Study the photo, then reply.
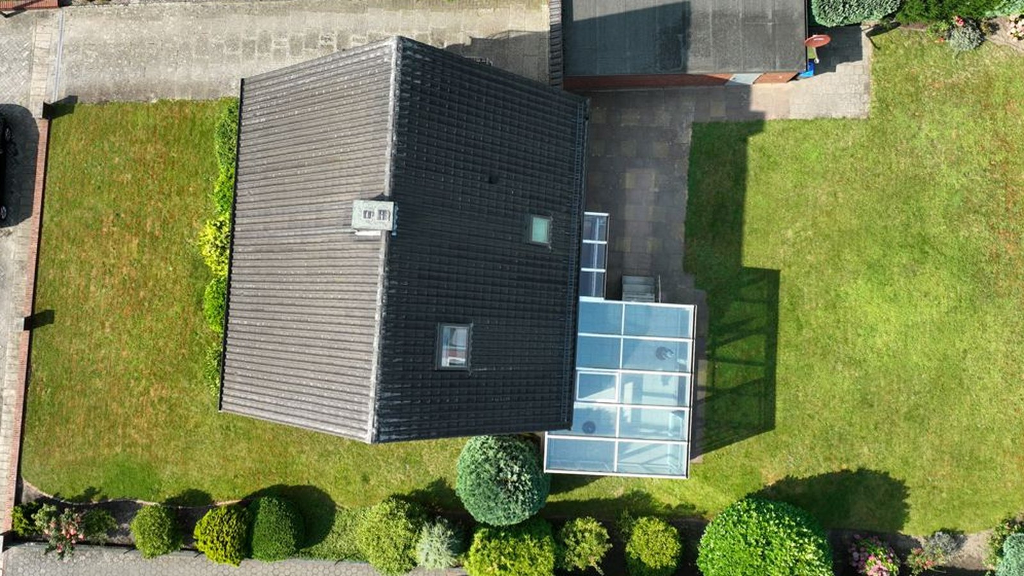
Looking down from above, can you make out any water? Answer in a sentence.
No, the picture contains no water.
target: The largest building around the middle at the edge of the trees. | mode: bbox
[216,42,593,447]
